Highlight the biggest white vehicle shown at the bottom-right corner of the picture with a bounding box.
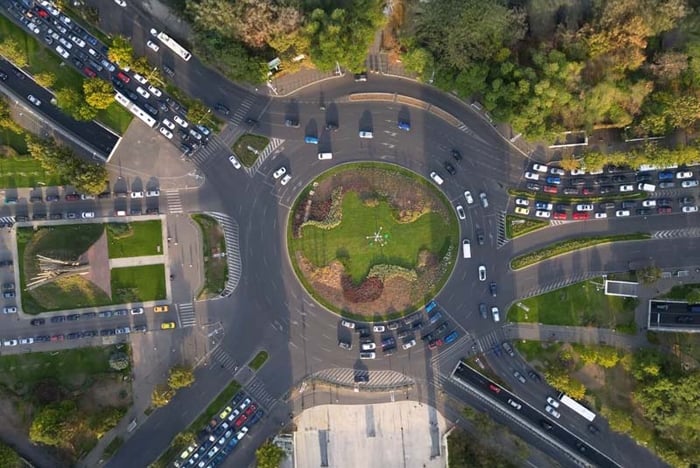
[554,392,599,424]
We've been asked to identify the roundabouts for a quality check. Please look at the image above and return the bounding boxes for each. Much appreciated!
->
[243,118,504,366]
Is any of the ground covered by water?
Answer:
No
